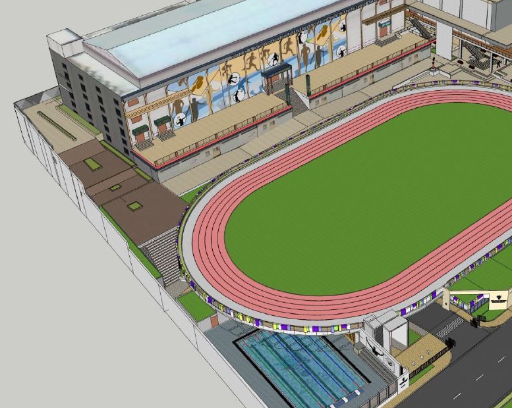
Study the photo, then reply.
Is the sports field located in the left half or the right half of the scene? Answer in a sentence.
The sports field is on the right side of the image.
